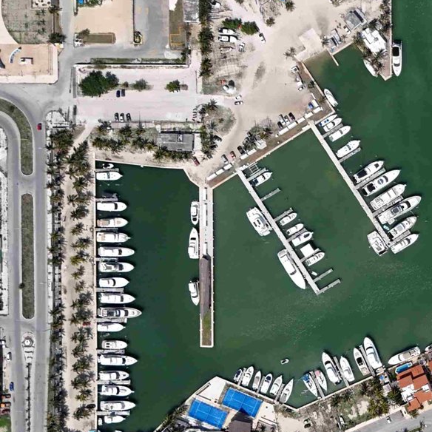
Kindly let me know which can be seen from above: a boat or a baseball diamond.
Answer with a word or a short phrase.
boat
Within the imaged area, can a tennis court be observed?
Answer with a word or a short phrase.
Yes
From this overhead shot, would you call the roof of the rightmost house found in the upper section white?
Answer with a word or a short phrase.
Yes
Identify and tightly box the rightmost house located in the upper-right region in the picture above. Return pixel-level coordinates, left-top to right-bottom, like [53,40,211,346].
[362,28,388,57]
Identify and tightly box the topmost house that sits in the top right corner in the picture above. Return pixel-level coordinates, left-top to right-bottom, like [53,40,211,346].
[344,7,368,31]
